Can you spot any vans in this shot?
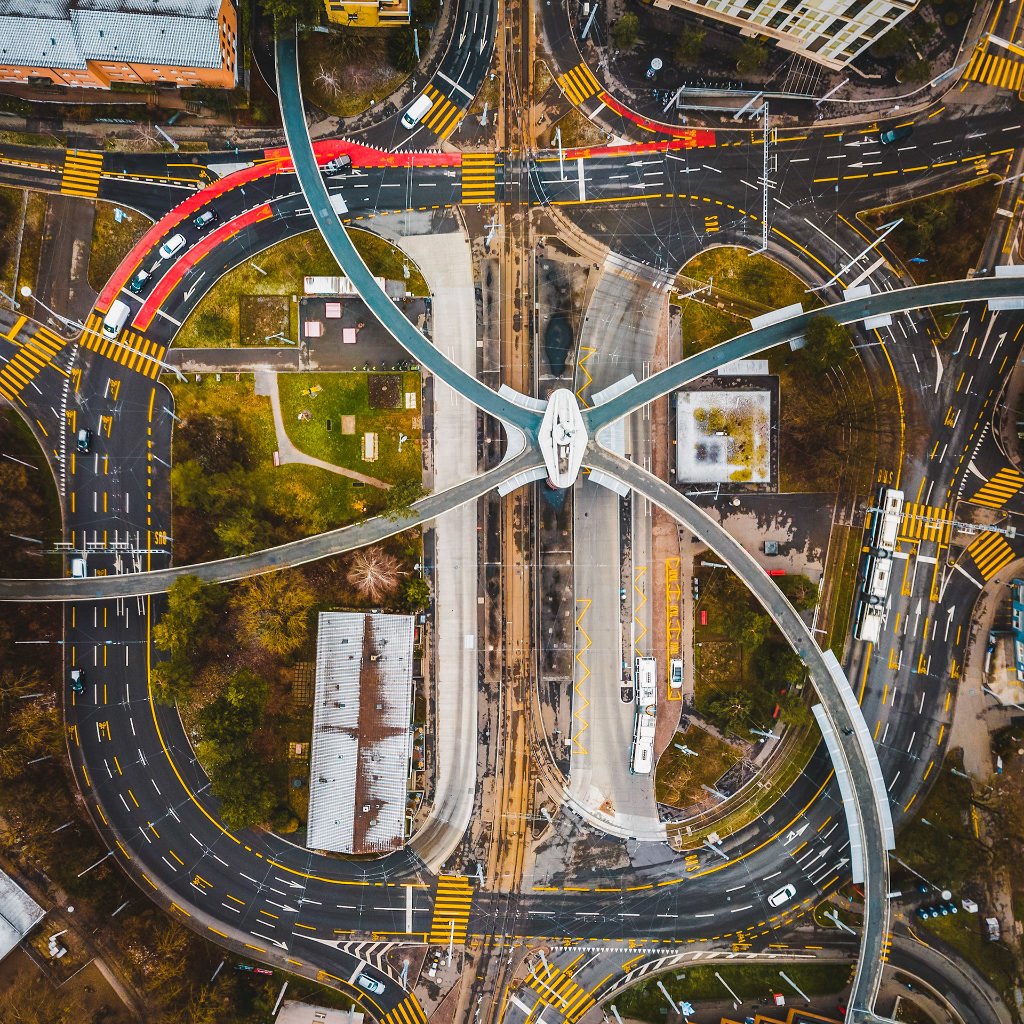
Yes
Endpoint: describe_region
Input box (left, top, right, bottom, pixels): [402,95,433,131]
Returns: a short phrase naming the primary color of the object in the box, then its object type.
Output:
white van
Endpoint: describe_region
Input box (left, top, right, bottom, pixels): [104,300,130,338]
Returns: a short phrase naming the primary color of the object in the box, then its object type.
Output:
white vehicle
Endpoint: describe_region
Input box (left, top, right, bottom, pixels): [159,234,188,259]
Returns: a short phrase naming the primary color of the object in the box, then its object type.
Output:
white car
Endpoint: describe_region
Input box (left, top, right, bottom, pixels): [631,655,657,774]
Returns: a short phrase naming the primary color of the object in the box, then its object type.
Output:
white bus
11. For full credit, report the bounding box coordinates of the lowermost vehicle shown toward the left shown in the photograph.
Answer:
[355,971,387,994]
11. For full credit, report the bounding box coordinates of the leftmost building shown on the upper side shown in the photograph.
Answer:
[0,0,239,96]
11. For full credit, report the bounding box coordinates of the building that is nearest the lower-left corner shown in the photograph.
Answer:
[0,860,48,958]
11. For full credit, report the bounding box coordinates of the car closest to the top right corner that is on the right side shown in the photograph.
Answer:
[879,124,913,145]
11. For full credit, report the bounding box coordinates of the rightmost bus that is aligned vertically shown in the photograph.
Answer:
[853,487,904,654]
